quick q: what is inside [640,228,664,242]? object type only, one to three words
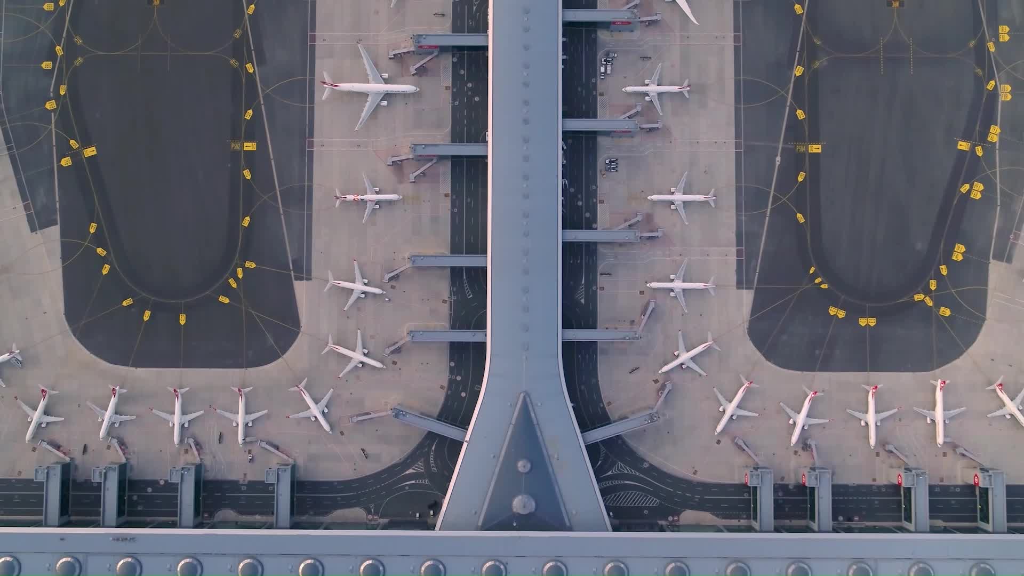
jet bridge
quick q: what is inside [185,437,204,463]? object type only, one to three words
jet bridge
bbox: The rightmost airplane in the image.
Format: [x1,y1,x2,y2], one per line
[987,379,1024,430]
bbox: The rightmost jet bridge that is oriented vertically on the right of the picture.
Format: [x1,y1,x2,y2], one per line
[807,438,820,467]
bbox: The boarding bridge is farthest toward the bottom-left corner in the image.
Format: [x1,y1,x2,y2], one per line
[38,438,75,462]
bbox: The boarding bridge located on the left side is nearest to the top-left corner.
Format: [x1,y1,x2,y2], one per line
[388,46,416,59]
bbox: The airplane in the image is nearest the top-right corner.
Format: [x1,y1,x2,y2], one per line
[676,0,699,24]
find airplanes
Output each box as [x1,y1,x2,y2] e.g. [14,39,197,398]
[324,327,386,380]
[781,388,830,445]
[88,382,136,444]
[323,42,420,130]
[622,63,691,115]
[913,380,966,447]
[676,0,699,24]
[328,260,386,311]
[14,386,62,443]
[659,329,719,378]
[647,171,717,224]
[846,389,901,448]
[987,379,1024,430]
[713,377,761,434]
[335,171,402,223]
[647,259,718,313]
[215,389,267,446]
[151,389,203,446]
[288,380,333,433]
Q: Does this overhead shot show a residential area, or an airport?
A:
airport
